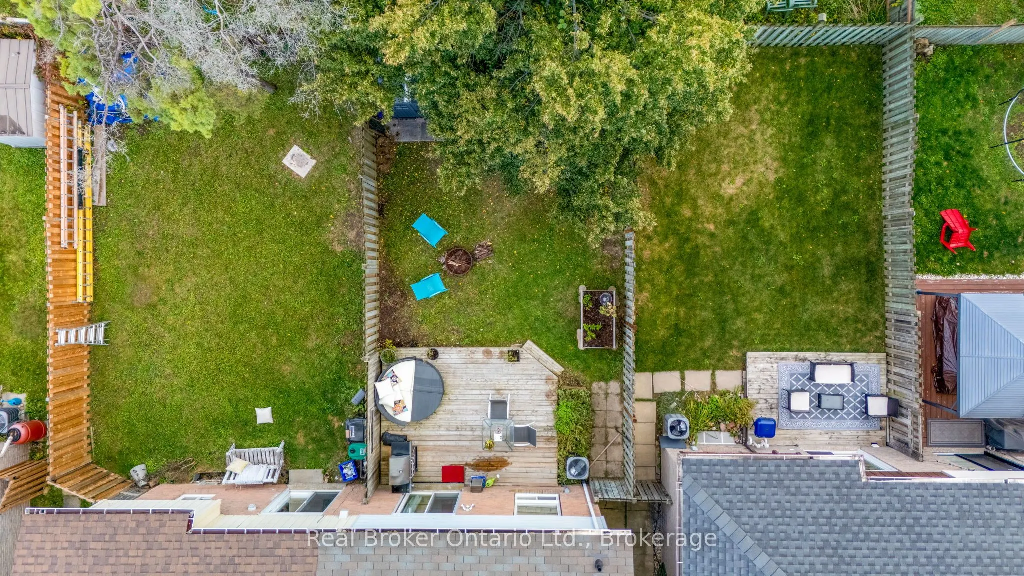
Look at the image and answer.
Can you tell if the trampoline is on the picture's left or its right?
right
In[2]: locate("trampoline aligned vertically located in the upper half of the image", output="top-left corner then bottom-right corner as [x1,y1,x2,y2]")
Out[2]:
[986,91,1024,184]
